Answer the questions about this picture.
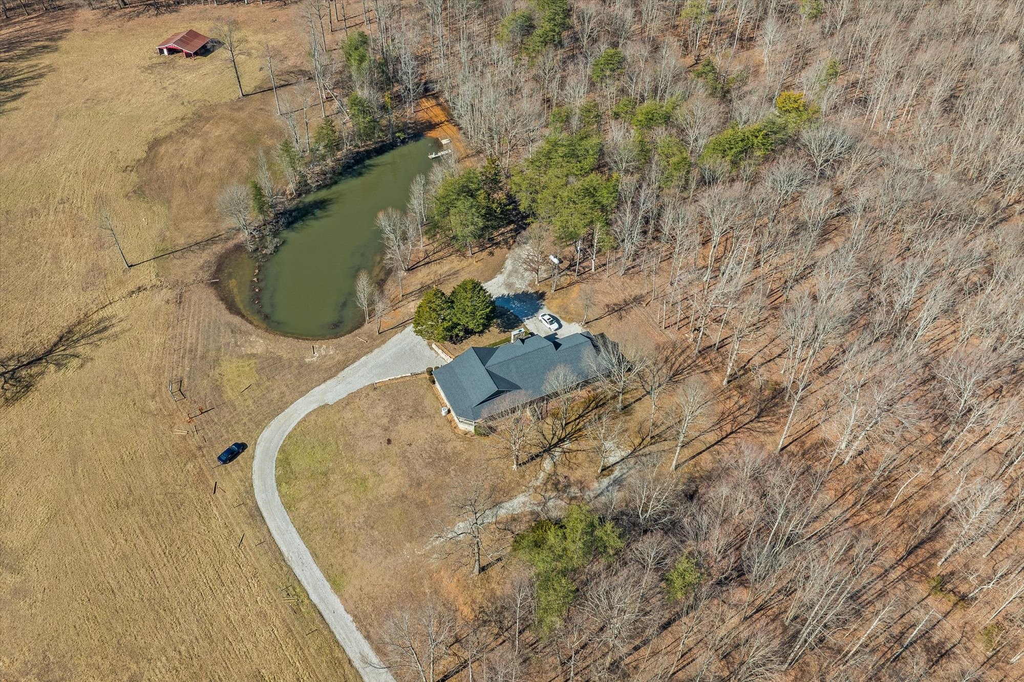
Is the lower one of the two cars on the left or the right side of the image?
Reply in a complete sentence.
It is on the left.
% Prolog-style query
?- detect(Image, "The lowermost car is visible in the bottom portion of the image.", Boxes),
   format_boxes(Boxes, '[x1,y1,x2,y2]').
[215,442,249,466]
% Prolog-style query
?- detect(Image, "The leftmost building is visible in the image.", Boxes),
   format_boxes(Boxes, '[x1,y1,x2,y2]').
[154,30,220,60]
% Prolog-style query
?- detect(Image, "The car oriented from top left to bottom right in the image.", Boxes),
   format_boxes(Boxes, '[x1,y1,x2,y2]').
[539,313,561,330]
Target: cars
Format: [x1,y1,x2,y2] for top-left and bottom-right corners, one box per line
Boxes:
[539,313,561,330]
[215,442,249,466]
